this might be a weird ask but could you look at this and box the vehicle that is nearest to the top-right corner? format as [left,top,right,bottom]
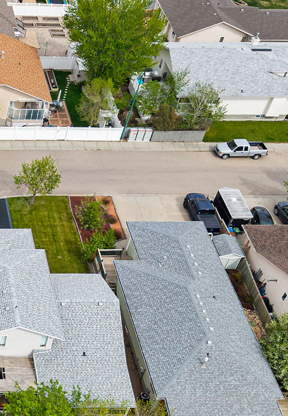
[215,140,273,162]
